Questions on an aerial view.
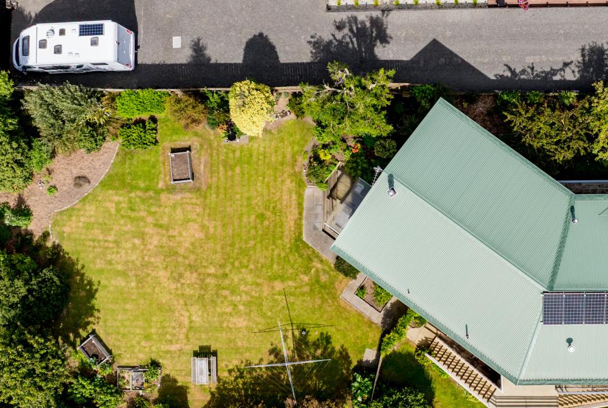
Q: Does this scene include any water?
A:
No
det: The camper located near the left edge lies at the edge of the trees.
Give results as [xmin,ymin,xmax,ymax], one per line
[13,18,141,70]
